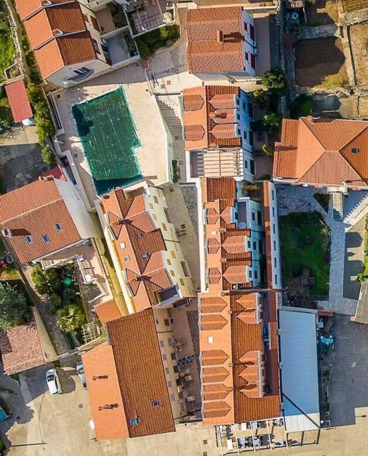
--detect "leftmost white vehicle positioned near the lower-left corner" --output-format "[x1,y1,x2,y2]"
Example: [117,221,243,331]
[45,367,63,396]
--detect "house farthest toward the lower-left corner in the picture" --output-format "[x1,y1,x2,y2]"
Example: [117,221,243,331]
[0,322,67,375]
